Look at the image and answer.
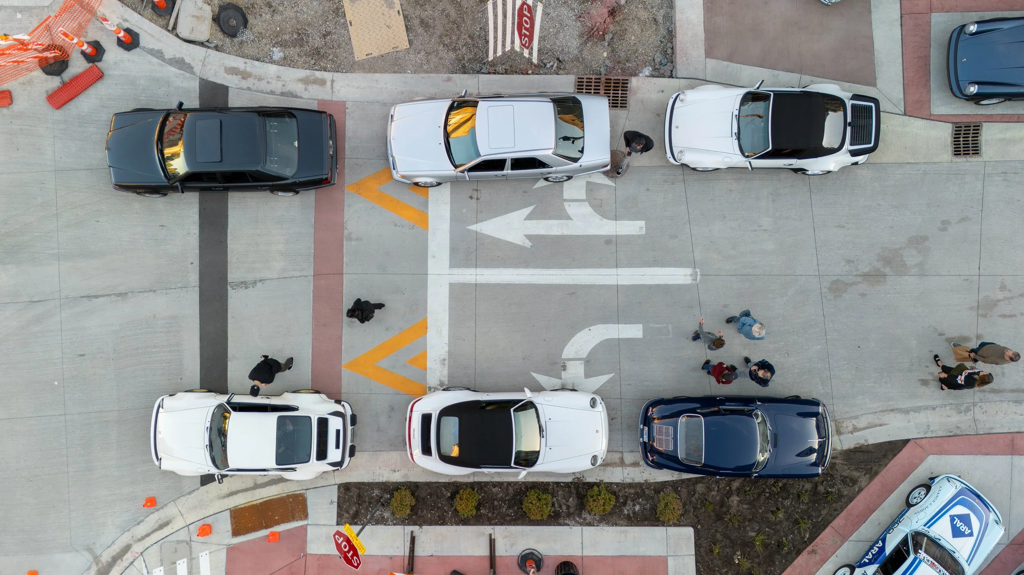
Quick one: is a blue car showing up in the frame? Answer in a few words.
Yes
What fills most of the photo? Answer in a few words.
paved ground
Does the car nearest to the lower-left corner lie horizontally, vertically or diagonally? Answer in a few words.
horizontally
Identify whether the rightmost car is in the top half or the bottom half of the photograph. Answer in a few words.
top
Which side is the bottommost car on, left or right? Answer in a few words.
right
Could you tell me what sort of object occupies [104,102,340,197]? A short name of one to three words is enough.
car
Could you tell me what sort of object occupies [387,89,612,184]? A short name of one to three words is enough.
car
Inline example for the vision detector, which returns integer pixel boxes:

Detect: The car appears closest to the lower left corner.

[153,390,359,483]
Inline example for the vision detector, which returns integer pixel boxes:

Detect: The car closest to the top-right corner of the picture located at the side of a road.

[943,17,1024,104]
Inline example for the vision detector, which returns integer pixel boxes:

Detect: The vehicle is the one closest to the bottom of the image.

[835,473,1005,575]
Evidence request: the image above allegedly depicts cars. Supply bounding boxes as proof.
[835,473,1005,575]
[638,394,832,479]
[387,89,612,184]
[808,0,844,7]
[943,17,1024,104]
[153,390,359,483]
[666,80,880,172]
[405,387,605,478]
[104,102,340,197]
